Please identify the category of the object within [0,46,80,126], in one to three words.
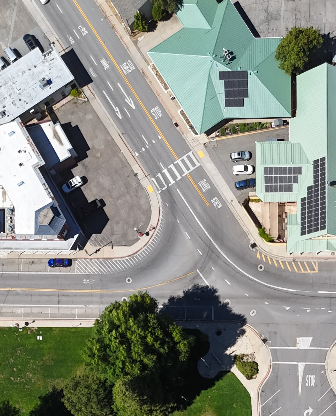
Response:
building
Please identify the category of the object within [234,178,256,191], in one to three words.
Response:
vehicle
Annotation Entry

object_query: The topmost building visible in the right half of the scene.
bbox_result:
[148,0,292,135]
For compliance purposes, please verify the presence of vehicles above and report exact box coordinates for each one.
[48,257,71,268]
[21,30,41,52]
[230,150,250,162]
[0,54,8,70]
[233,163,254,175]
[40,0,49,6]
[1,43,19,63]
[63,174,86,194]
[234,178,256,191]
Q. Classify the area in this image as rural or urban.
urban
